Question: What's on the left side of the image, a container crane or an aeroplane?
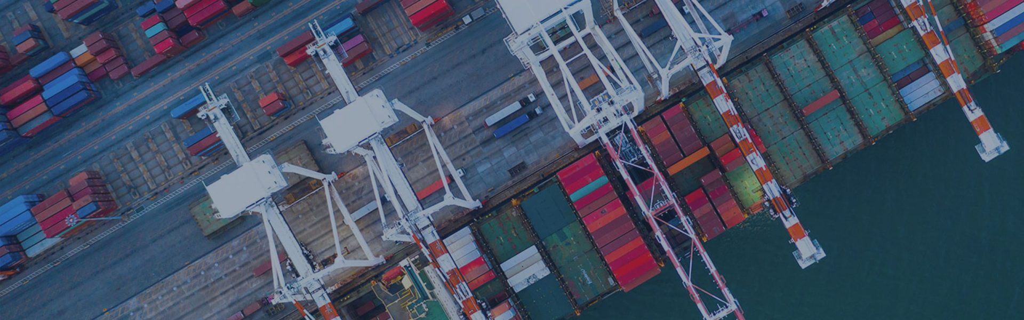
container crane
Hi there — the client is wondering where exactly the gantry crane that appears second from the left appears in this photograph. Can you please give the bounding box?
[299,19,498,320]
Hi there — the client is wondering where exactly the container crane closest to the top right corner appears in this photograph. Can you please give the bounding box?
[894,0,1010,165]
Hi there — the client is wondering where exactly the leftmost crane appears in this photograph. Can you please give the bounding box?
[190,82,398,320]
